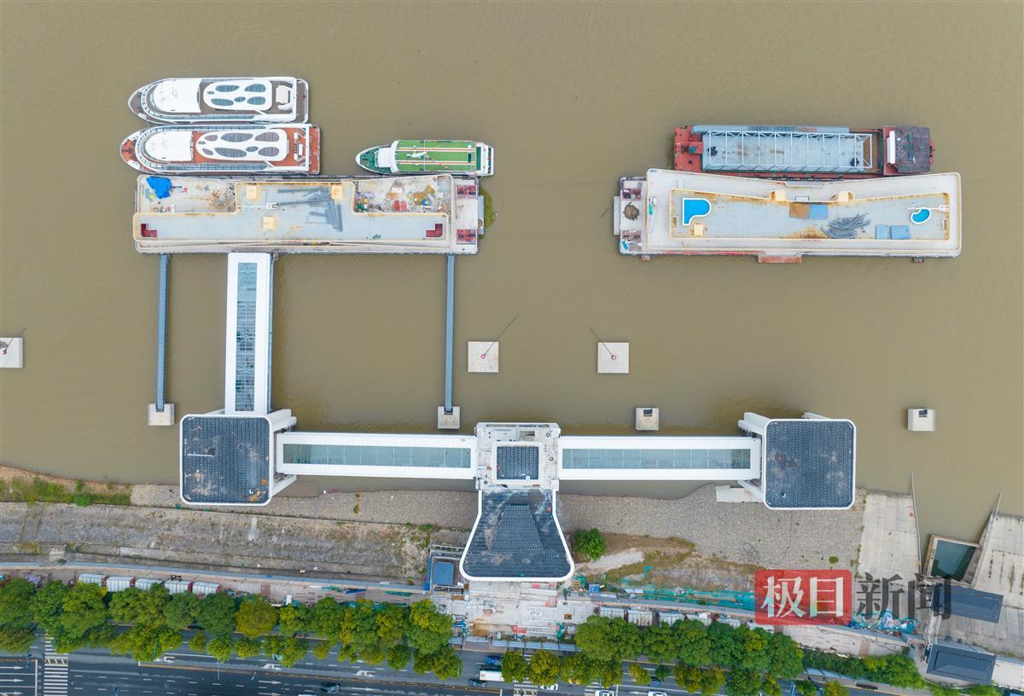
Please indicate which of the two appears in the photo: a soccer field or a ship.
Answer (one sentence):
I can see a ship in this picture.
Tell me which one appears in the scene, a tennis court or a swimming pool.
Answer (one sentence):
There is a swimming pool in the scene.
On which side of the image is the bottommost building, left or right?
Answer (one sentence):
It is on the right.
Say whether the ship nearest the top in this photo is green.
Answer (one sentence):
No, from above the ship nearest the top looks white.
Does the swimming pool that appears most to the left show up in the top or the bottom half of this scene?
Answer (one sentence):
Seen from above, the swimming pool that appears most to the left lies in the top half of the view.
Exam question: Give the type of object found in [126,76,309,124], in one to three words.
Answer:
ship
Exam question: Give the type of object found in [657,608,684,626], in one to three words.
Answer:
building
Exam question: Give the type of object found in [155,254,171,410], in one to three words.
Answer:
pier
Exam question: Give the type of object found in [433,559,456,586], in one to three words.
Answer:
shed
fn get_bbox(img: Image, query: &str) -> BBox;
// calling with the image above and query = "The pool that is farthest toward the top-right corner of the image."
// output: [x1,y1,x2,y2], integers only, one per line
[911,209,932,224]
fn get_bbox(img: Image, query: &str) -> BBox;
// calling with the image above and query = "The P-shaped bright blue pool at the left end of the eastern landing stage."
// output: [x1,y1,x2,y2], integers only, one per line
[683,198,711,226]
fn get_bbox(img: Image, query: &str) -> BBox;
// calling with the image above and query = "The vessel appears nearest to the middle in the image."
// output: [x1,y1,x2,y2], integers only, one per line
[355,140,494,177]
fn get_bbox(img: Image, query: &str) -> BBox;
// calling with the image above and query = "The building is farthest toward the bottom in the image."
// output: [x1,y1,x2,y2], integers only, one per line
[920,639,996,684]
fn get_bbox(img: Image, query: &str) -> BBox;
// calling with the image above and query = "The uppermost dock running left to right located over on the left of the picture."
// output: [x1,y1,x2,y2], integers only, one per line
[131,173,484,255]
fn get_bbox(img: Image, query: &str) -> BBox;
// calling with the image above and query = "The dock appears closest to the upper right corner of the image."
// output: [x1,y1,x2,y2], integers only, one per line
[613,168,962,264]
